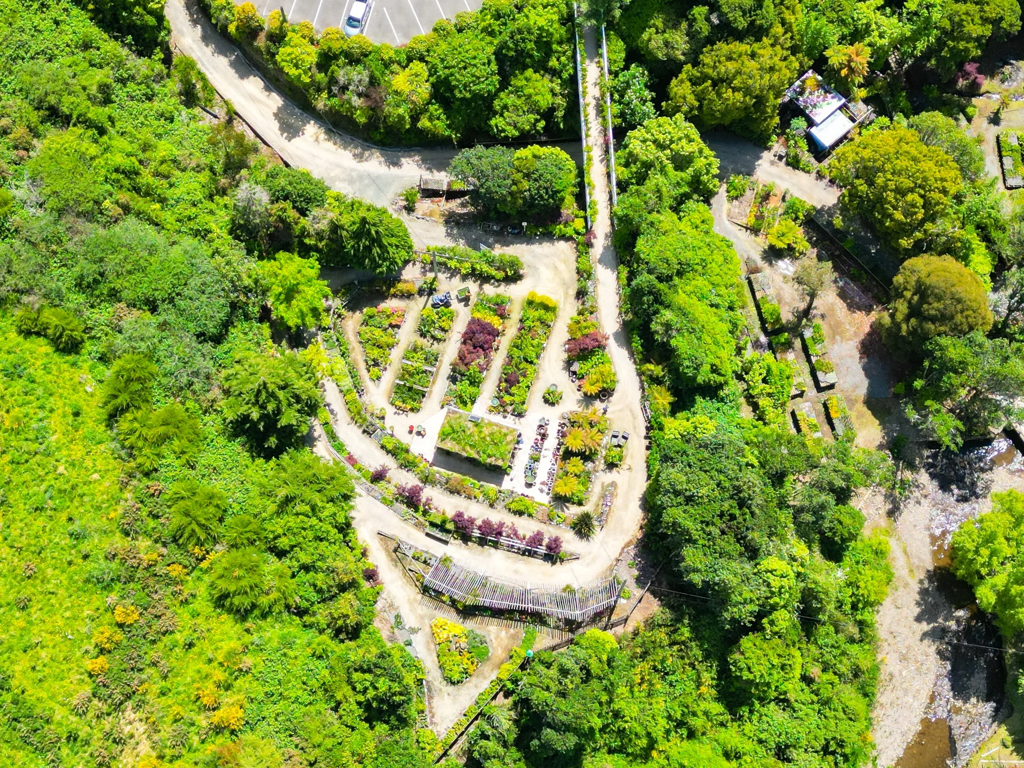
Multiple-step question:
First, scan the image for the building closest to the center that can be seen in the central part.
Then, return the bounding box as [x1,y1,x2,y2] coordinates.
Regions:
[437,407,522,474]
